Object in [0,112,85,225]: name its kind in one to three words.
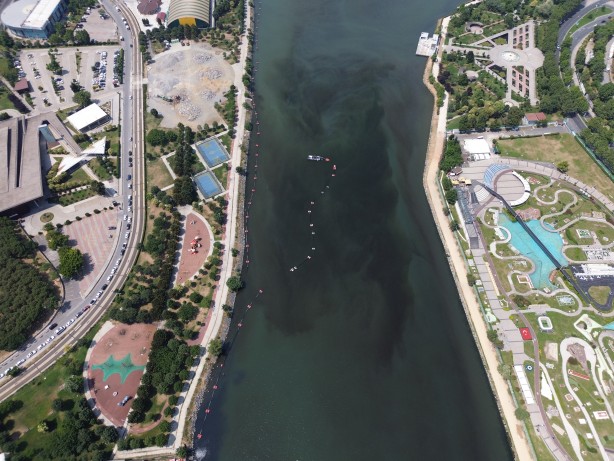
building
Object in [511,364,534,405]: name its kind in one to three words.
building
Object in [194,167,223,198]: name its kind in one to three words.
sports court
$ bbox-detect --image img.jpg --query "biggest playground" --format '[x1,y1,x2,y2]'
[88,320,158,427]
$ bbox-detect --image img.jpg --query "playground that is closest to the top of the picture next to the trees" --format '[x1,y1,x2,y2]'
[175,212,210,289]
